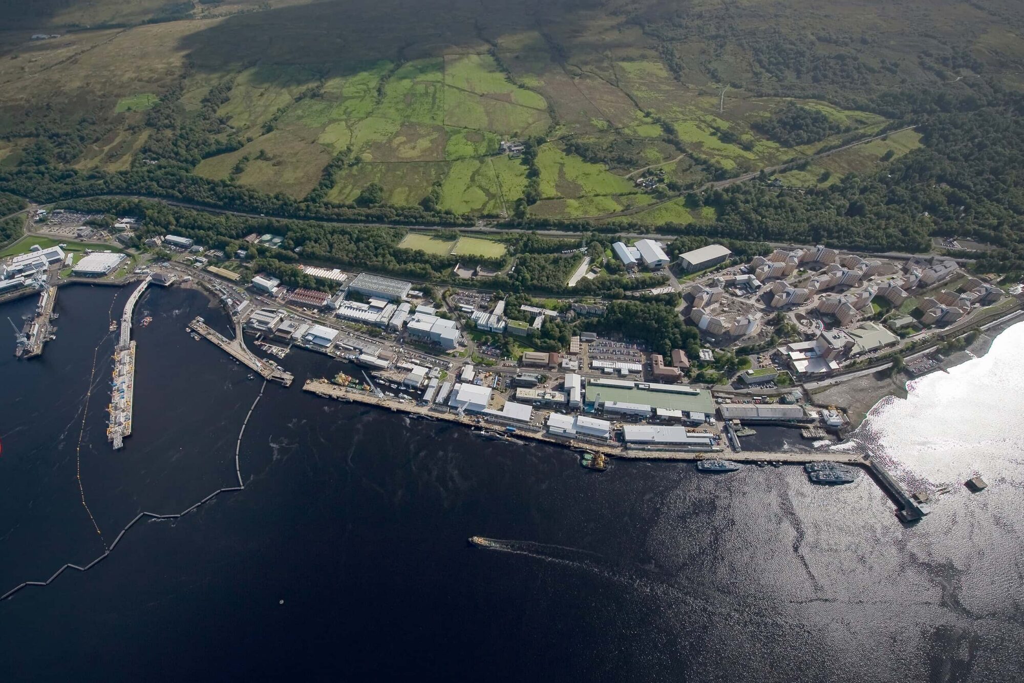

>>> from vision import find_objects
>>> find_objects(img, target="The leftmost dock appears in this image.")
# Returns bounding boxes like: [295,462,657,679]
[24,286,58,359]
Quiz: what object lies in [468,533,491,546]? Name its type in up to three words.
ship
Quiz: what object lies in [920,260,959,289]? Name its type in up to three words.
building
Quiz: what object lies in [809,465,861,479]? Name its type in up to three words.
ship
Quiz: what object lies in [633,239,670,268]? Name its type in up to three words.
building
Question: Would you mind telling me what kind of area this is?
port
